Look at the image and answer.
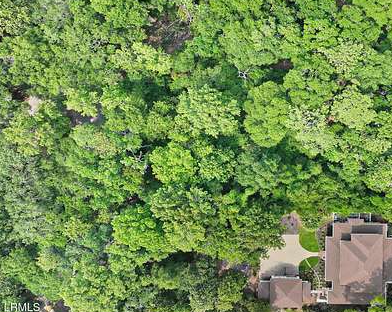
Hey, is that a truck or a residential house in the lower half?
residential house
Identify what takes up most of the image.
trees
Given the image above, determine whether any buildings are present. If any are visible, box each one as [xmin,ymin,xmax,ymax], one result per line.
[258,274,311,309]
[322,216,392,305]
